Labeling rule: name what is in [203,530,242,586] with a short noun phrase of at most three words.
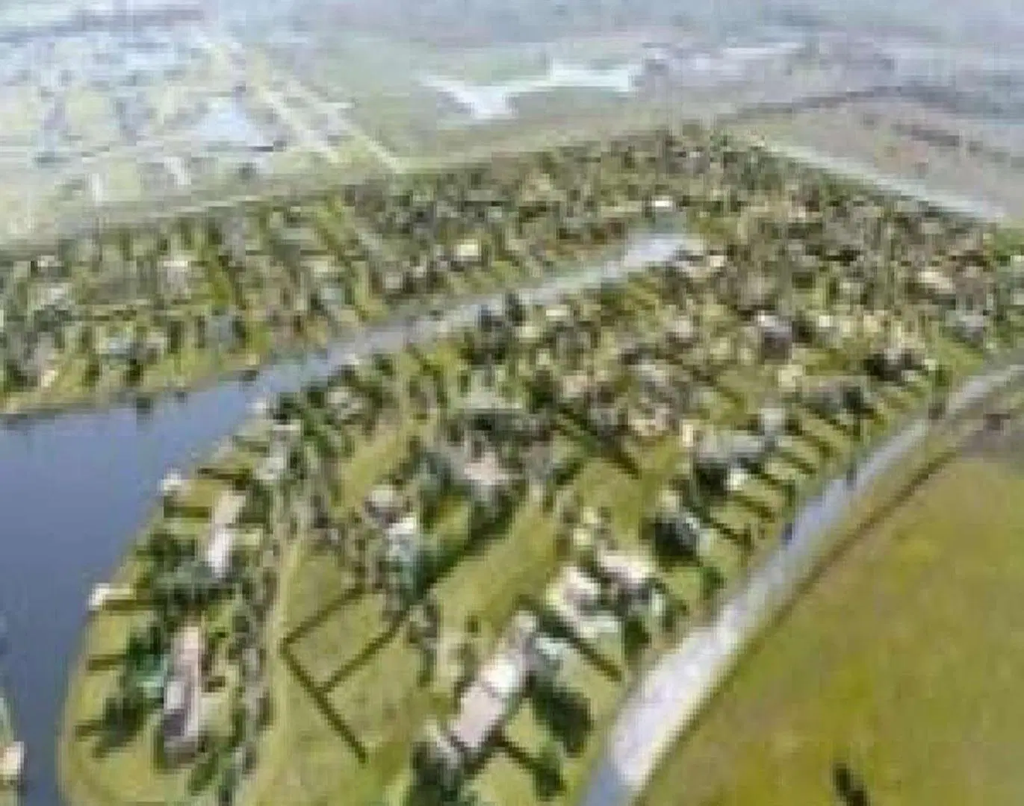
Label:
house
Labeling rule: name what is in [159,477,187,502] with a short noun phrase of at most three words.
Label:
building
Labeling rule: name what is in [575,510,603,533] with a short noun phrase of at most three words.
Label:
shed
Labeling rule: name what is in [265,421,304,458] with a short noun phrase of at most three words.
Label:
house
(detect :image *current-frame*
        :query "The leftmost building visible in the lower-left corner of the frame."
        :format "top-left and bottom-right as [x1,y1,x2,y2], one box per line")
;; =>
[0,739,32,789]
